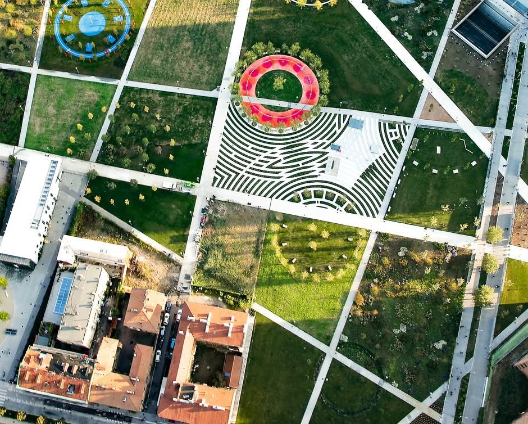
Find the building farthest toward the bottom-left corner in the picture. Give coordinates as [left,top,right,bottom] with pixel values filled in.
[15,346,97,402]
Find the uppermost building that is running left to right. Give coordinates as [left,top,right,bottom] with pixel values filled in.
[55,233,132,268]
